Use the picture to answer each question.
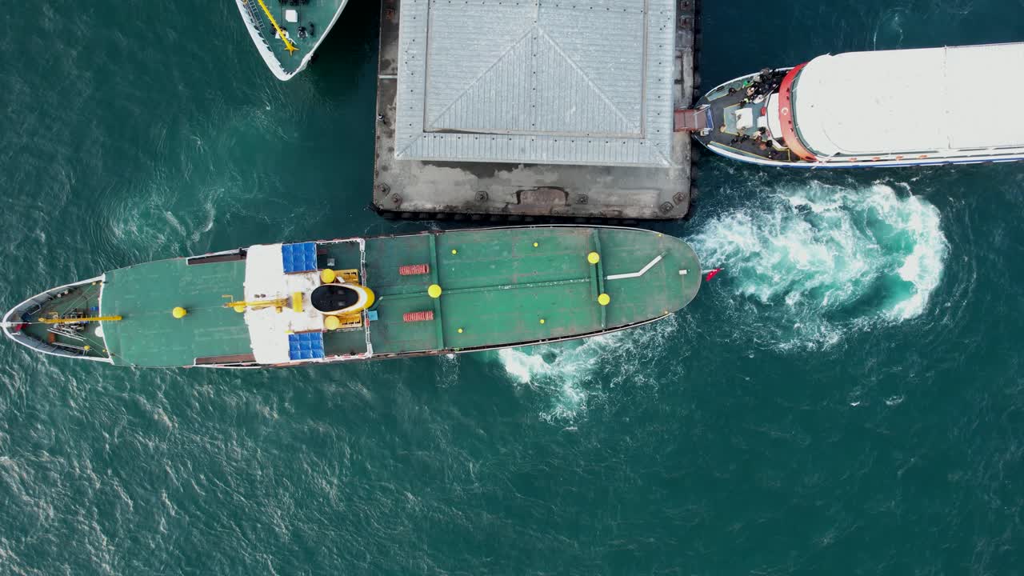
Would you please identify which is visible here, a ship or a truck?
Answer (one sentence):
Of the two, only a ship appears.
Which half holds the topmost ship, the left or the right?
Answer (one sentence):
You can find the topmost ship on the left side of the picture.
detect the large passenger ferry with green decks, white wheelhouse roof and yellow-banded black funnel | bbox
[0,224,724,370]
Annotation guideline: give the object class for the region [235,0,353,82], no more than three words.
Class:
ship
